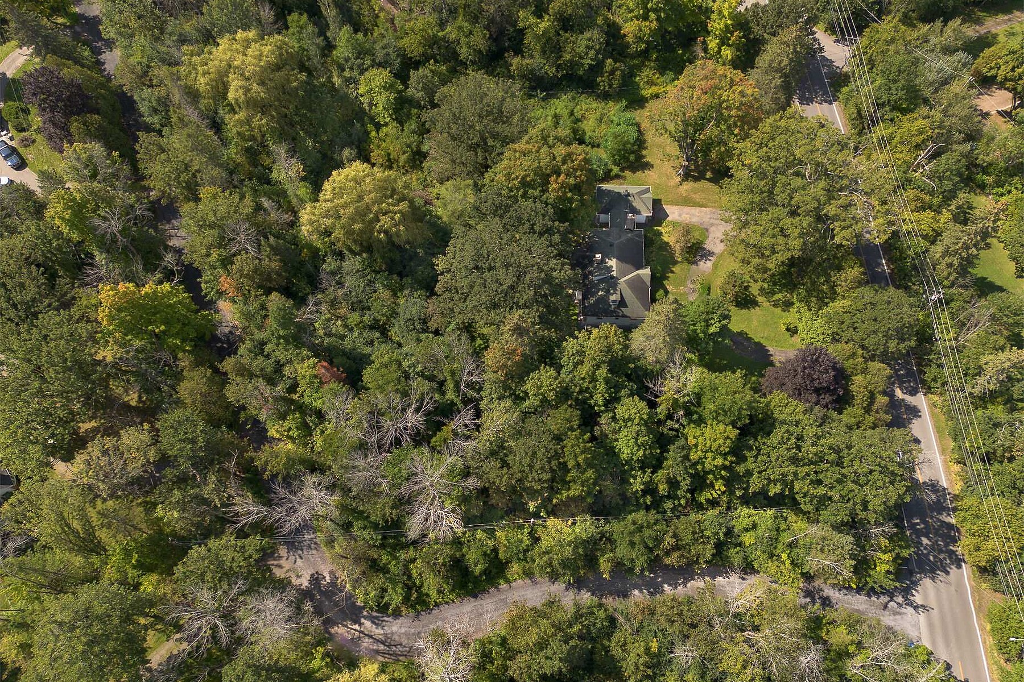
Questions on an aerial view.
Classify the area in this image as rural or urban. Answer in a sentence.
The area shown here is rural.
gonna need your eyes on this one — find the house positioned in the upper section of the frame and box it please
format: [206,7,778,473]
[574,185,652,326]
